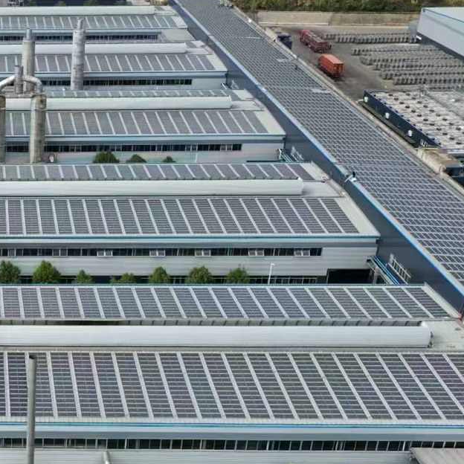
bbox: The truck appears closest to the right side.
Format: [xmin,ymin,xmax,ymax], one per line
[322,50,345,73]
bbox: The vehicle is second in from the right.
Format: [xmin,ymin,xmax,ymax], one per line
[295,29,333,49]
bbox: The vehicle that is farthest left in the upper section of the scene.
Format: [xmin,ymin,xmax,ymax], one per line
[277,35,293,48]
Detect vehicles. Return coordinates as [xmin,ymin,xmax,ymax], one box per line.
[295,29,333,49]
[277,35,293,48]
[322,50,345,73]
